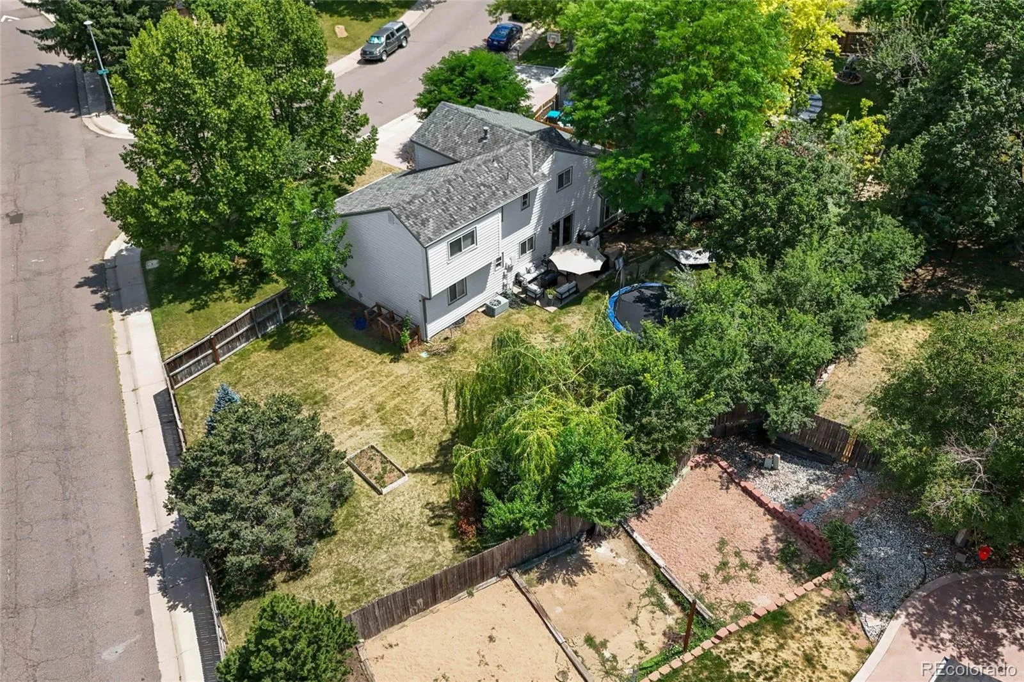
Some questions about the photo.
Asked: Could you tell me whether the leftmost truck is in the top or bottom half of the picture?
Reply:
top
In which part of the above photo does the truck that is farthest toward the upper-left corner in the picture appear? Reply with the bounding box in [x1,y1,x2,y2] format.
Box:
[356,21,408,60]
